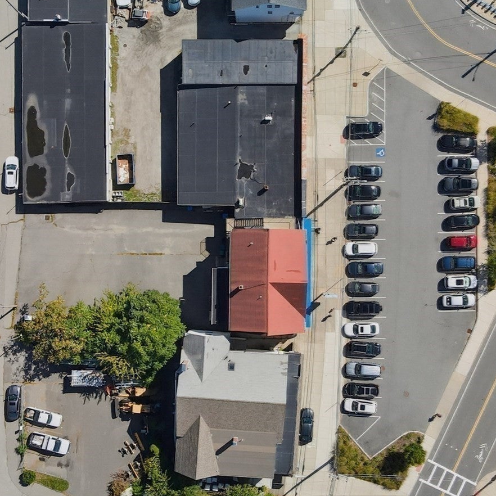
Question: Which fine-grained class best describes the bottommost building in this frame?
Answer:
house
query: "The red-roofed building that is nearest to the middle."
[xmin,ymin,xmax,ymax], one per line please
[213,217,321,335]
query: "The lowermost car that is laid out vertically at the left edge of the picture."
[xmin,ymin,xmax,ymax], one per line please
[4,386,21,421]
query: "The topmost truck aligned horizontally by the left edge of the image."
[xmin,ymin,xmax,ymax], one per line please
[22,406,63,427]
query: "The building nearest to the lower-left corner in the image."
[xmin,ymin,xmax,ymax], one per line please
[175,332,301,481]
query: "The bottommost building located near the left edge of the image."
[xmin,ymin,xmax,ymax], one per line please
[21,17,112,206]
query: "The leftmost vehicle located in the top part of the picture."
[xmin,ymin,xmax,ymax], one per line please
[2,155,20,191]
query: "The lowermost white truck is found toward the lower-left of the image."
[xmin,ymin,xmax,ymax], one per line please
[27,433,70,454]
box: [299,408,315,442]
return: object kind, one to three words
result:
car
